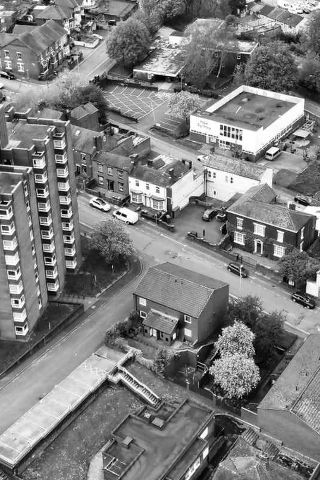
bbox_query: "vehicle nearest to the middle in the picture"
[114,209,138,224]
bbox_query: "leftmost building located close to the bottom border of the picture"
[103,400,215,480]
